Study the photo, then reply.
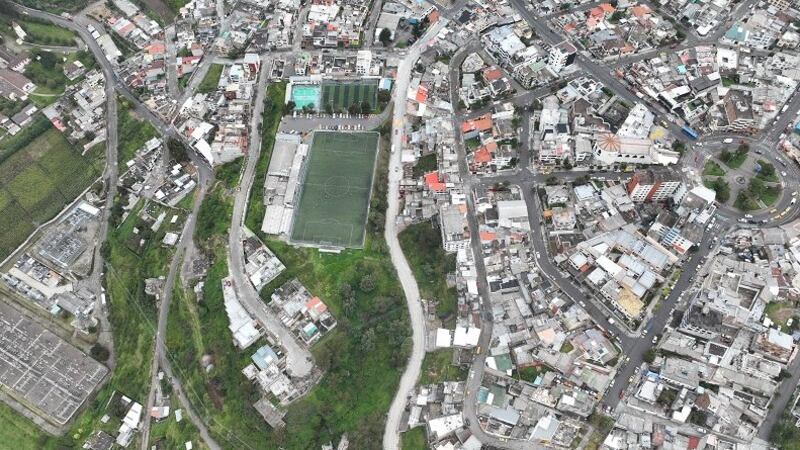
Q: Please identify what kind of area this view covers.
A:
residential area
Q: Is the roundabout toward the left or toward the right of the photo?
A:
right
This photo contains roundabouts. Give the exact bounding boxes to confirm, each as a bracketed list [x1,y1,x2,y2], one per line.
[685,137,800,227]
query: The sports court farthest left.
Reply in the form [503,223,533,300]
[292,84,321,110]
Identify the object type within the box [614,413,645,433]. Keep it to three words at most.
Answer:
house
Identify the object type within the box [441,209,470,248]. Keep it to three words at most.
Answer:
building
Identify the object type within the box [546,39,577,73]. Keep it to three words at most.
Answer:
building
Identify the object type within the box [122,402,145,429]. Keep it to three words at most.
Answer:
house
